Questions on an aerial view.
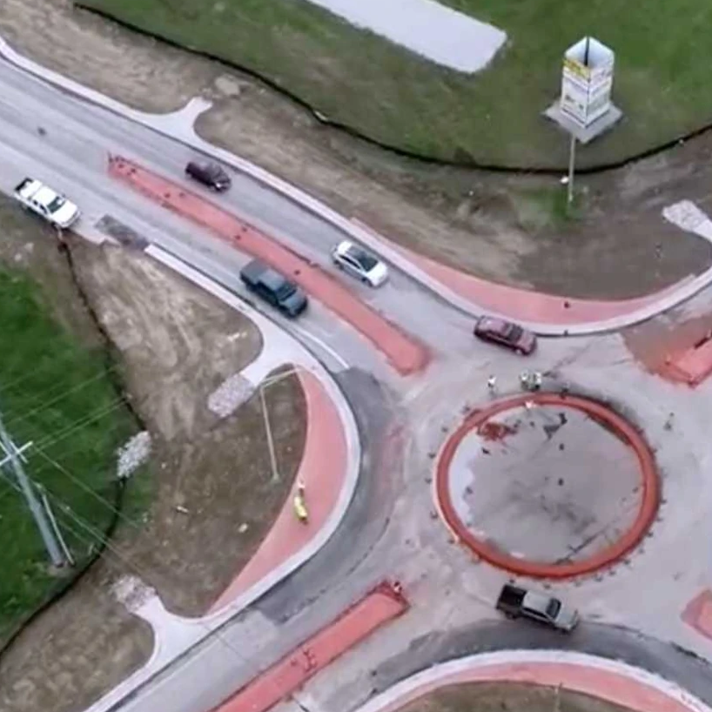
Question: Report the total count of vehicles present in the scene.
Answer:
6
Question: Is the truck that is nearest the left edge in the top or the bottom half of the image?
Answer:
top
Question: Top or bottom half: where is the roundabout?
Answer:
bottom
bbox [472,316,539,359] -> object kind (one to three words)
car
